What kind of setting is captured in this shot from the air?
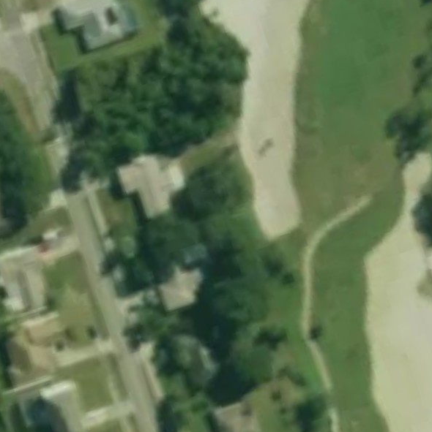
golf course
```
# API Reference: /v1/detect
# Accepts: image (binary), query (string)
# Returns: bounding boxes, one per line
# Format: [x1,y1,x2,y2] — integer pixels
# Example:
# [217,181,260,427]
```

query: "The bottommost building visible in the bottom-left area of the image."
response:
[26,378,85,432]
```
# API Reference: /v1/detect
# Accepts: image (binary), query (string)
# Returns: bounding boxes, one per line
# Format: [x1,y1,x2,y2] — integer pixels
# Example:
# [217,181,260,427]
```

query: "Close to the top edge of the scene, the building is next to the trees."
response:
[53,0,142,53]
